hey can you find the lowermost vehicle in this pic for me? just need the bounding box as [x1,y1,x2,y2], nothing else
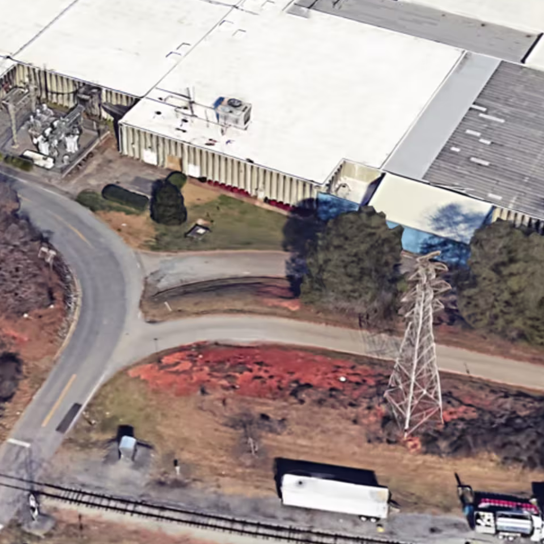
[476,513,544,544]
